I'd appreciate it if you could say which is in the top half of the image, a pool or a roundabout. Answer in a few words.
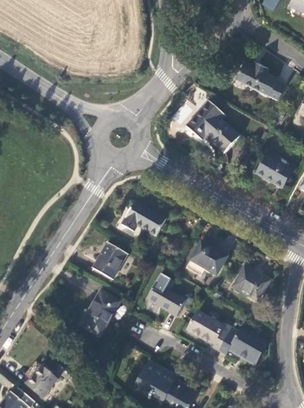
roundabout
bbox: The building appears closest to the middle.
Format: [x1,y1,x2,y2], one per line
[117,200,166,239]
